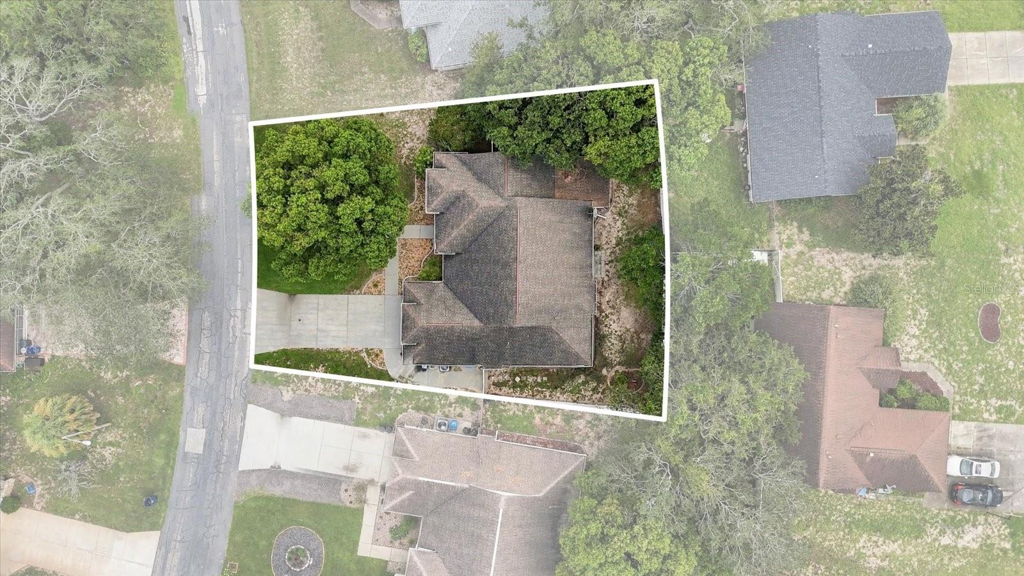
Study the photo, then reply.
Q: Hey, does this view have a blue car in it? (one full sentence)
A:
No, there is no blue car in the image.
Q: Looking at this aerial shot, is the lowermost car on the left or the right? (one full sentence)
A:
It is on the right.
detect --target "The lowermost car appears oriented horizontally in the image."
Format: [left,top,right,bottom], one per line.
[953,484,1008,511]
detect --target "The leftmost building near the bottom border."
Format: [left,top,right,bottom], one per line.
[384,425,587,576]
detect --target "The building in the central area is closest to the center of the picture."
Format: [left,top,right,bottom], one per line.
[400,150,611,370]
